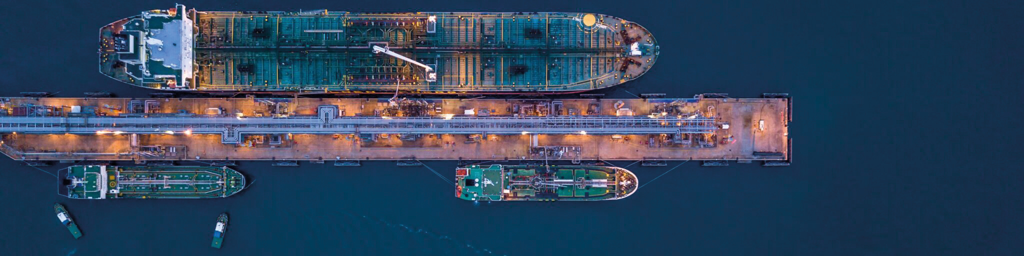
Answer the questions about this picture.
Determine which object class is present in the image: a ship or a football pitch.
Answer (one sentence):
This aerial view contains a ship.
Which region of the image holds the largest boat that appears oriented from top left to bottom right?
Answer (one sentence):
The largest boat that appears oriented from top left to bottom right appears toward the bottom left of the photo.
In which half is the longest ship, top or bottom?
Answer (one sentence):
It is in the top half that the longest ship appears.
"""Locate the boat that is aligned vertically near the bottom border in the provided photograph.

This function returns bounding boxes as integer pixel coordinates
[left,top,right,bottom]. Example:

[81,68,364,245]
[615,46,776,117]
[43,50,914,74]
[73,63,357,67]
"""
[210,212,227,250]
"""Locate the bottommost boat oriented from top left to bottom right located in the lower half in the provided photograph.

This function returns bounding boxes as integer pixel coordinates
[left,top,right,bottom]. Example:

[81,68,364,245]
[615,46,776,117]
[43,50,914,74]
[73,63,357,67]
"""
[53,202,83,240]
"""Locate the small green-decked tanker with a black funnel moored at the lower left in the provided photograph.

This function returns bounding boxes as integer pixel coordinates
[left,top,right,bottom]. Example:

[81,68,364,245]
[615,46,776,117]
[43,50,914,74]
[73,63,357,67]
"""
[57,165,247,199]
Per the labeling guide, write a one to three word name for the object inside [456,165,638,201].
ship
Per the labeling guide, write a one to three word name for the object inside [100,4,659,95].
ship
